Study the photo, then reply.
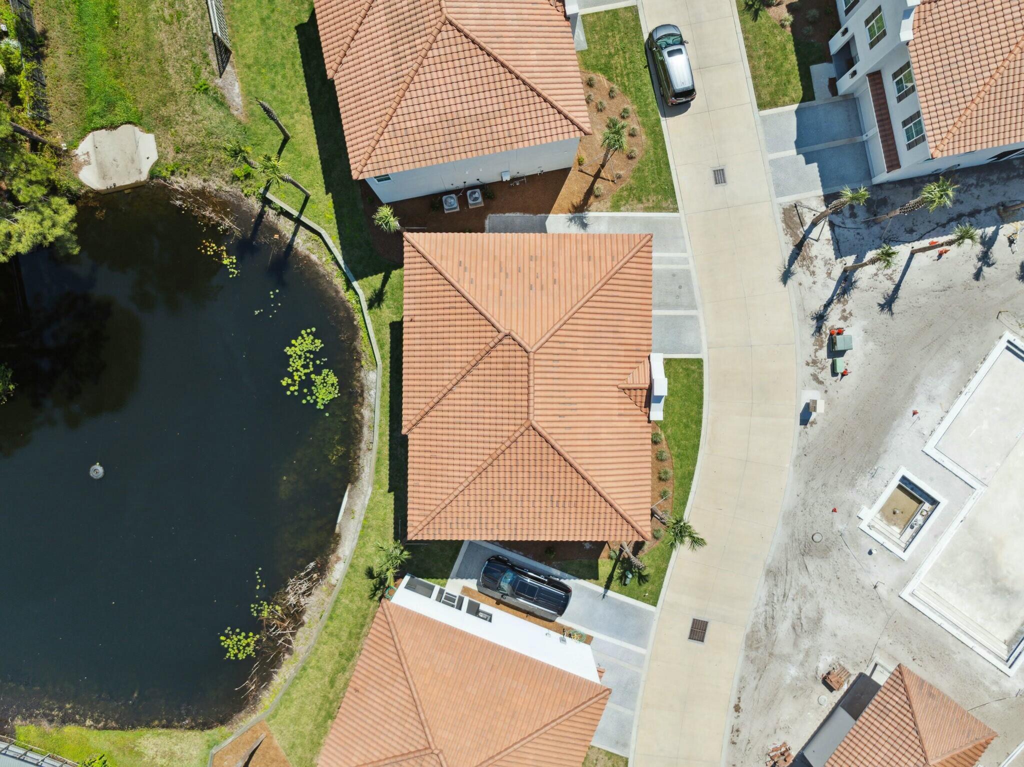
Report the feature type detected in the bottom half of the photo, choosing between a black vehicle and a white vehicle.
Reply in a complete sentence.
You can see a black vehicle in the bottom half of the photo.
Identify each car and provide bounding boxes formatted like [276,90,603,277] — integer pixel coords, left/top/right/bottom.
[475,553,572,621]
[649,21,701,107]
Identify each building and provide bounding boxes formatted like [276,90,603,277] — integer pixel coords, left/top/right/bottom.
[314,577,615,767]
[797,655,1000,767]
[400,230,673,543]
[310,0,594,203]
[0,735,81,767]
[831,0,1024,184]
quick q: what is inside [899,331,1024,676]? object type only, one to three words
swimming pool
